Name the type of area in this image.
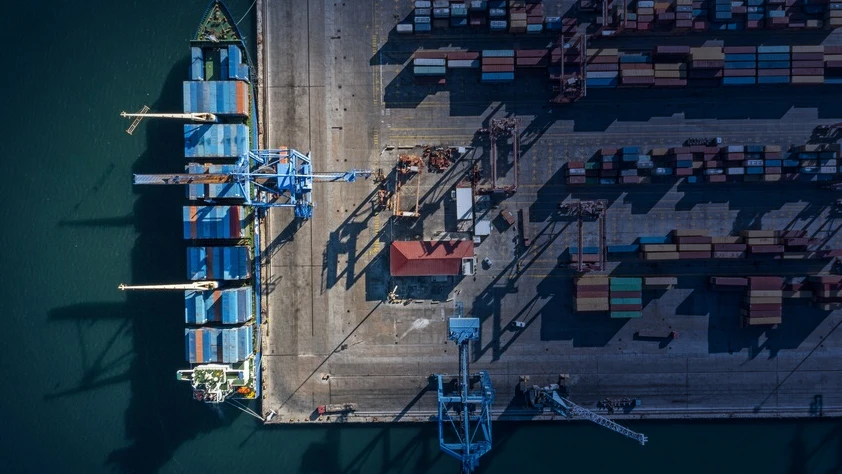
port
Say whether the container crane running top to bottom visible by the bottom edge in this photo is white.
No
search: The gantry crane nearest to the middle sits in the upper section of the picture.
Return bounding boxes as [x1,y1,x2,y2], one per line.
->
[396,149,424,219]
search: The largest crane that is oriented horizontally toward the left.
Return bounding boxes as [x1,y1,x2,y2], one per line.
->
[132,148,372,219]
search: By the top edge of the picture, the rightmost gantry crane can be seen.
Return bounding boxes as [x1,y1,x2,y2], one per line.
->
[589,0,631,44]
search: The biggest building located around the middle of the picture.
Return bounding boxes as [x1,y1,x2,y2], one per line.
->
[390,239,475,277]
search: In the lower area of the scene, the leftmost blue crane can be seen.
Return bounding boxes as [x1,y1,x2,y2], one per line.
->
[430,298,502,474]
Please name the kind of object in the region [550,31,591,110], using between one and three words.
container crane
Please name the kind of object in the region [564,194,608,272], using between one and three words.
container crane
